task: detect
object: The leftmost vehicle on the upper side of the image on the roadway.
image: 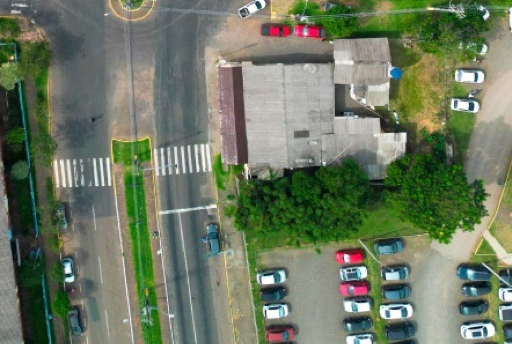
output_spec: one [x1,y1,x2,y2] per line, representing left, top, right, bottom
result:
[237,0,268,20]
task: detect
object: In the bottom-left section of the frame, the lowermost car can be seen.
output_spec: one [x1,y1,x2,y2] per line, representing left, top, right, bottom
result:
[66,304,86,337]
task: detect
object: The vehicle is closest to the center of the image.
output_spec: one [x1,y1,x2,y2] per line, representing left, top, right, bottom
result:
[201,222,221,256]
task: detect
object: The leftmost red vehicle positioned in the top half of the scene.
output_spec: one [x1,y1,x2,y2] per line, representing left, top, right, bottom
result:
[260,22,291,38]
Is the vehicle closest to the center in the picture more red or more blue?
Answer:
blue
